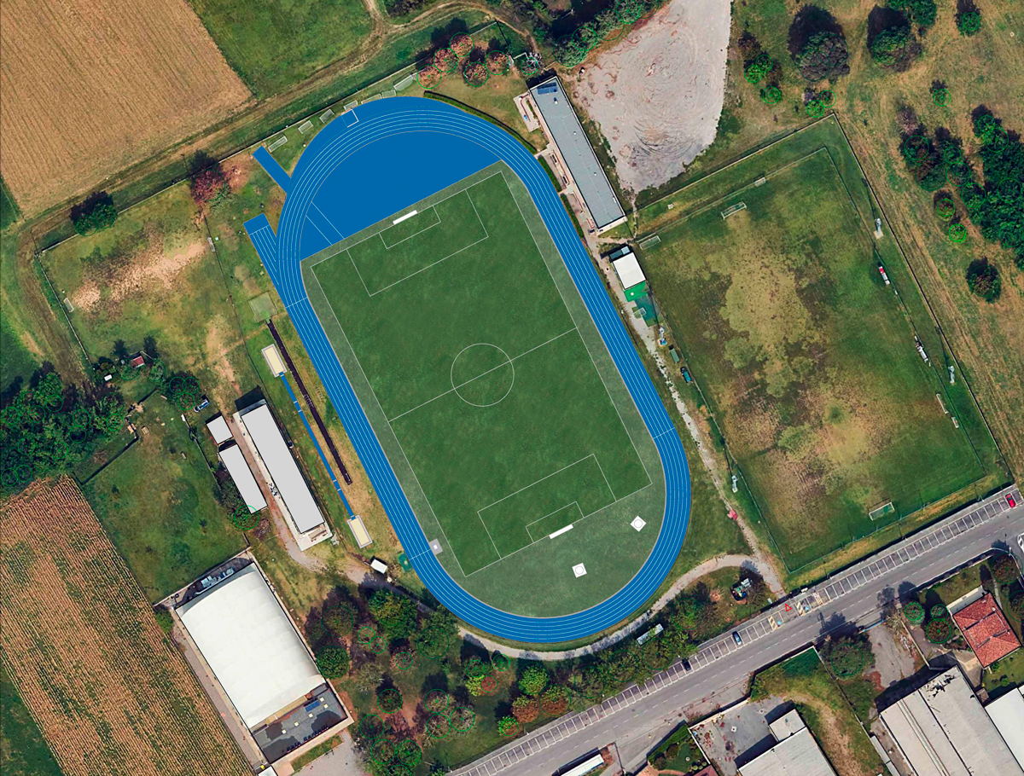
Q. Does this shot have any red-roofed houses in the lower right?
Yes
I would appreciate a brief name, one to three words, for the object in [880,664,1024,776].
warehouse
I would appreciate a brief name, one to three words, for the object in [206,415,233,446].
building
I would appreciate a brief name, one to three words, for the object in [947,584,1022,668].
house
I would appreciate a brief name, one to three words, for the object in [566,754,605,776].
bus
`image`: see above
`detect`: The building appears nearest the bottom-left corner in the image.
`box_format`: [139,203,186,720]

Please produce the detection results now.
[176,562,348,766]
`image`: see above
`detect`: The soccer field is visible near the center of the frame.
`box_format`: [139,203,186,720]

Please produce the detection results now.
[301,161,665,618]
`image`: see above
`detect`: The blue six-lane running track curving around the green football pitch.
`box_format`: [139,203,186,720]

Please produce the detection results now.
[244,96,690,643]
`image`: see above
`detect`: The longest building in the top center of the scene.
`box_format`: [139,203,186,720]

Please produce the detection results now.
[529,75,627,232]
